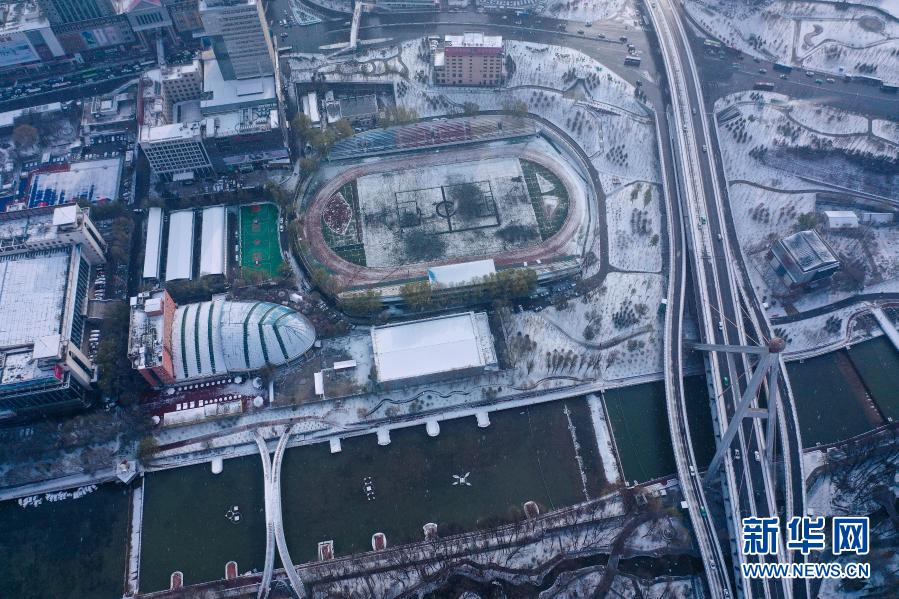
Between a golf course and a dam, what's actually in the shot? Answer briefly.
dam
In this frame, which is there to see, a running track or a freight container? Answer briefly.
running track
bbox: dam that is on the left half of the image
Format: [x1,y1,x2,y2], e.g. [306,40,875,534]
[124,473,146,599]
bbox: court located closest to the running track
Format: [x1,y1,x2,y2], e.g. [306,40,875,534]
[239,200,286,280]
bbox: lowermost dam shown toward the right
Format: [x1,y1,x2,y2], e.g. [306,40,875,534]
[587,391,627,484]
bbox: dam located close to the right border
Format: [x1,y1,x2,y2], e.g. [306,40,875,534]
[838,351,887,429]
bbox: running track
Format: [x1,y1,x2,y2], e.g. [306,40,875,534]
[306,152,587,274]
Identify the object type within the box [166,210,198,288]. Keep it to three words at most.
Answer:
shed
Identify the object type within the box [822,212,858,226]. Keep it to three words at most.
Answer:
shed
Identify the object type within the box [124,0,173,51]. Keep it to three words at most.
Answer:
building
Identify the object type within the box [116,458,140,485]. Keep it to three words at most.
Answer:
building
